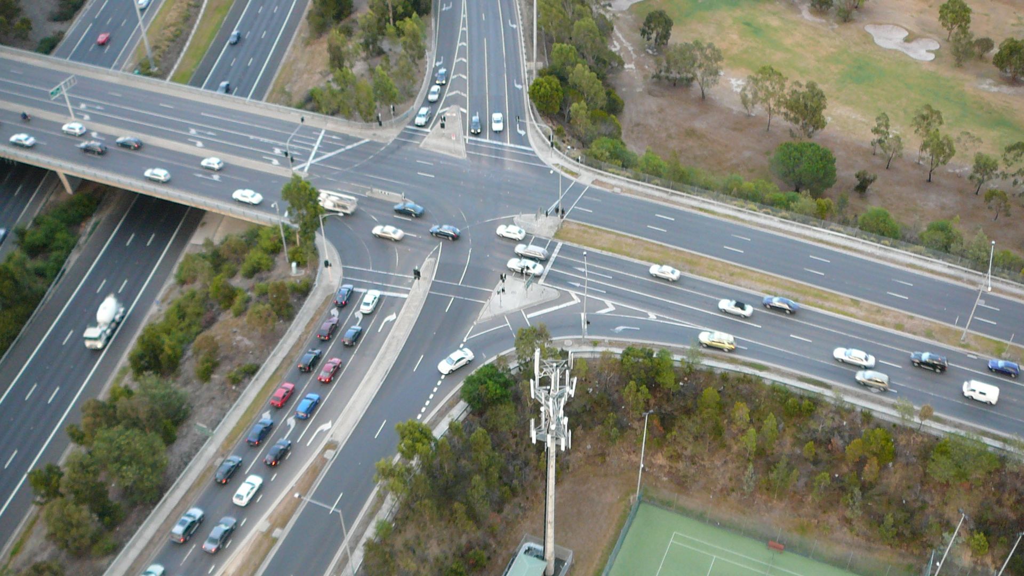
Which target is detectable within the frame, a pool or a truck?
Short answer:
truck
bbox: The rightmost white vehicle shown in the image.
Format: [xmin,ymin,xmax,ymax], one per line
[960,380,1002,405]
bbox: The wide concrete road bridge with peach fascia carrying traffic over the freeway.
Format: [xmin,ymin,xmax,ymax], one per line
[0,46,342,230]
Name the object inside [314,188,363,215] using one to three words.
truck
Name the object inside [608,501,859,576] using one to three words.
tennis court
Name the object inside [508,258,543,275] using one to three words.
car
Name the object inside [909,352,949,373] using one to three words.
car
